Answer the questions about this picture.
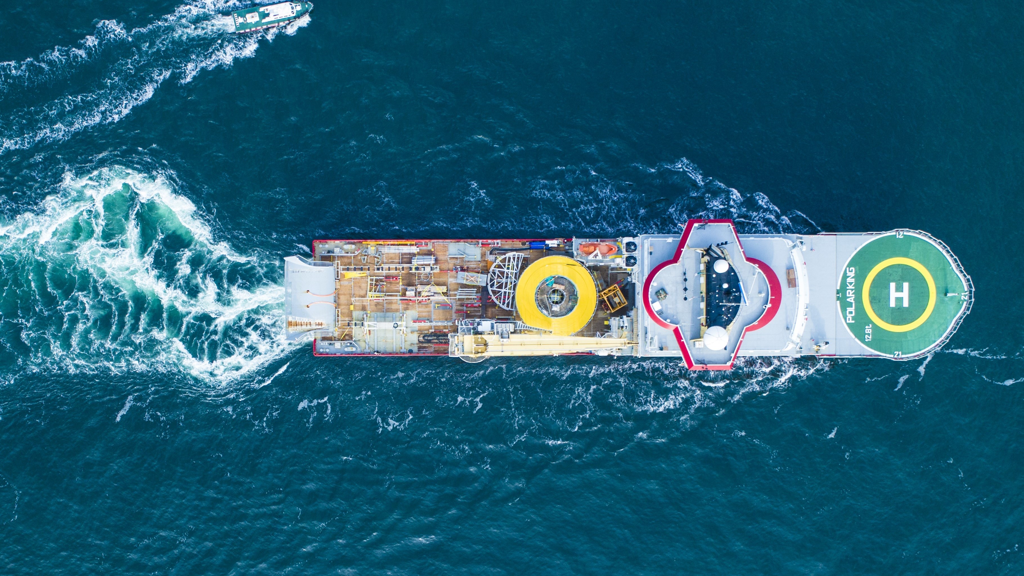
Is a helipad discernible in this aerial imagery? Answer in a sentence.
Yes, the frame does contain a helipad.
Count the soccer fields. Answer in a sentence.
The picture shows no soccer fields.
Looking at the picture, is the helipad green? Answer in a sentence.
Yes, the helipad appears green.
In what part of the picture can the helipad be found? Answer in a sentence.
The helipad is located in the right region of the scene.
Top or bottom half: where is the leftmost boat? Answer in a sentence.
Seen from above, the leftmost boat lies in the top half of the view.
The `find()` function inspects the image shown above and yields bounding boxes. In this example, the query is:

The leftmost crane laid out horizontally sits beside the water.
[448,318,639,363]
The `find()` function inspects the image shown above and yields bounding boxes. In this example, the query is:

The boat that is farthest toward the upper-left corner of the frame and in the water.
[232,0,314,33]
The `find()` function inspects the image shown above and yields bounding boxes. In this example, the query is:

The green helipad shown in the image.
[836,228,975,361]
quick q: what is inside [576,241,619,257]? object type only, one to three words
boat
